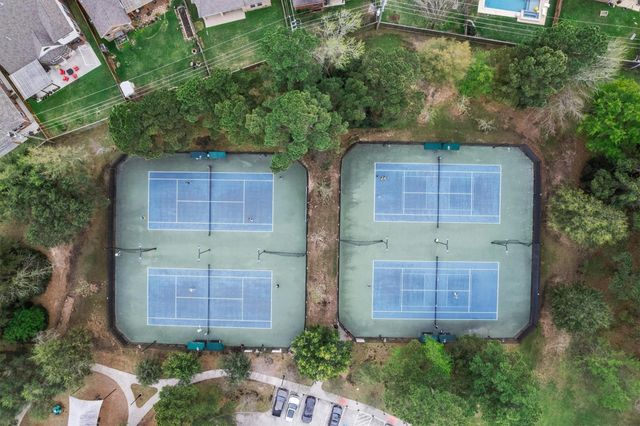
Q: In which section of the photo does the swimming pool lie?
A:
top right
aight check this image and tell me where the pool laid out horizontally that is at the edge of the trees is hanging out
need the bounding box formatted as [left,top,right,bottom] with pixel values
[478,0,547,25]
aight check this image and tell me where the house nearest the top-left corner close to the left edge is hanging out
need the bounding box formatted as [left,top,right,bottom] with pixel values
[0,0,85,76]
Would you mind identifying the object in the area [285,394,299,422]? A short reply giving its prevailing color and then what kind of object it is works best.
white vehicle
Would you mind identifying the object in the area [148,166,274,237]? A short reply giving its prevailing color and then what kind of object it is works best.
blue tennis court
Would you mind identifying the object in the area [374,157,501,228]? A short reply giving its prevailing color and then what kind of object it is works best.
blue tennis court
